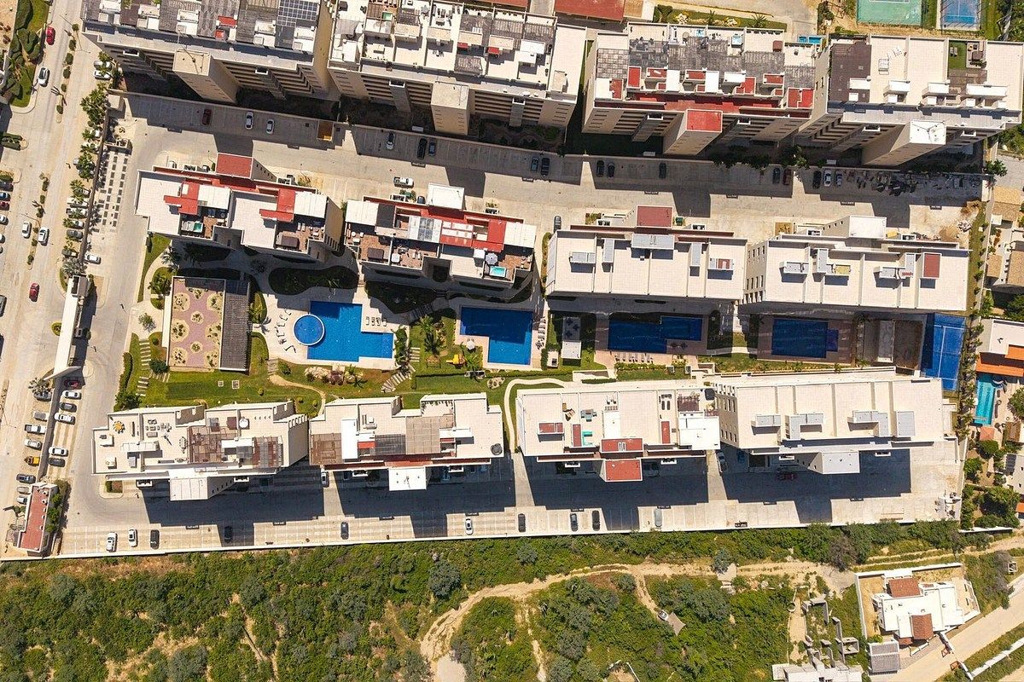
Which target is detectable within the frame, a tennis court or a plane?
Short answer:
tennis court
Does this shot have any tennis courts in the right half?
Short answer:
Yes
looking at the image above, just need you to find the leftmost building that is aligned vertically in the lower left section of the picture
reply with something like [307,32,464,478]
[18,481,65,552]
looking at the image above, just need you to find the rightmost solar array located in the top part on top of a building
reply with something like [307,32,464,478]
[417,217,434,240]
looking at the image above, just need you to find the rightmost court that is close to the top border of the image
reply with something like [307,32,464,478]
[937,0,981,30]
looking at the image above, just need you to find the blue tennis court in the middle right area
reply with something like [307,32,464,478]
[920,313,966,390]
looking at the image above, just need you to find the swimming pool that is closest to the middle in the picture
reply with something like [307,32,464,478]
[460,307,533,365]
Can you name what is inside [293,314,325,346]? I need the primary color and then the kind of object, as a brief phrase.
blue swimming pool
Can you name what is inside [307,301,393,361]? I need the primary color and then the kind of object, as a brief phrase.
blue swimming pool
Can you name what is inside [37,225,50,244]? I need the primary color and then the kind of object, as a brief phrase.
white vehicle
